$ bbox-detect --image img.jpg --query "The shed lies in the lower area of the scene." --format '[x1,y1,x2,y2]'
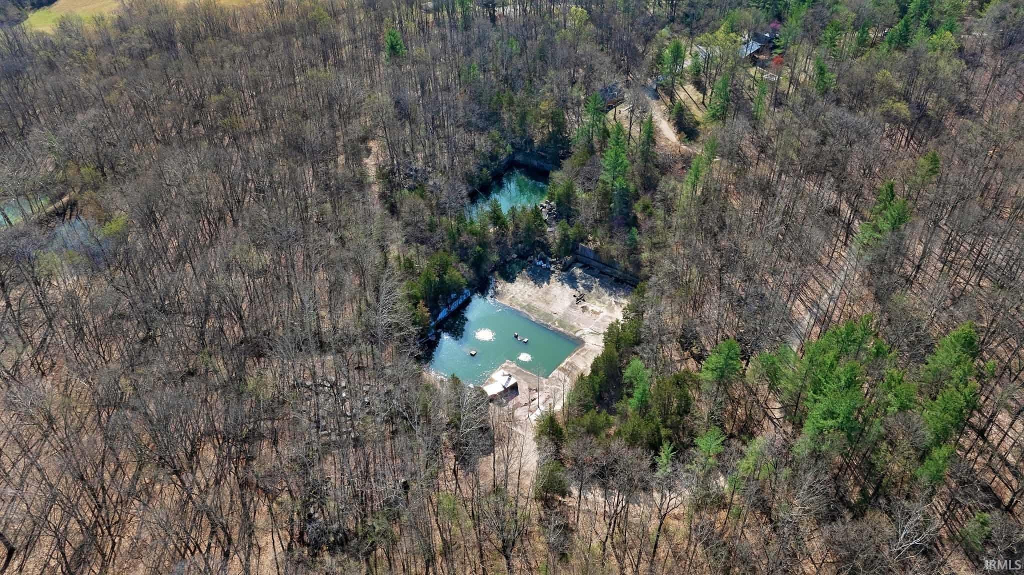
[483,370,516,401]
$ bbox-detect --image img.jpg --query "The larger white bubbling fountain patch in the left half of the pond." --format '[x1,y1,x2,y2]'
[467,325,502,345]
